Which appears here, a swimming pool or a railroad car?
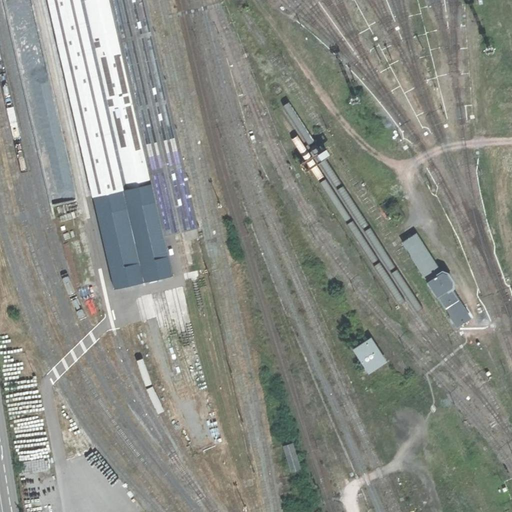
railroad car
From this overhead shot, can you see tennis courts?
No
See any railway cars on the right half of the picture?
Yes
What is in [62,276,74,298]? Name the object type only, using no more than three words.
rail car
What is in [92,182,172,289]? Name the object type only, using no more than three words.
shed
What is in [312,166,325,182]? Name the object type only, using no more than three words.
rail car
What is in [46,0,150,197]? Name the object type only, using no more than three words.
building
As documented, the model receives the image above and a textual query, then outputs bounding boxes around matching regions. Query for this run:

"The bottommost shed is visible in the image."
[283,444,302,474]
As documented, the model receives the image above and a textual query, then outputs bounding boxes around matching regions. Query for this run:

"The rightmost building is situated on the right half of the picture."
[428,272,472,328]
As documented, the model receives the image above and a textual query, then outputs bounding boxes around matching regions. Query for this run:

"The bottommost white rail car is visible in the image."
[148,387,164,415]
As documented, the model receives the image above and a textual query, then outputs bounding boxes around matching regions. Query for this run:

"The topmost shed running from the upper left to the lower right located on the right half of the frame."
[403,233,438,278]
